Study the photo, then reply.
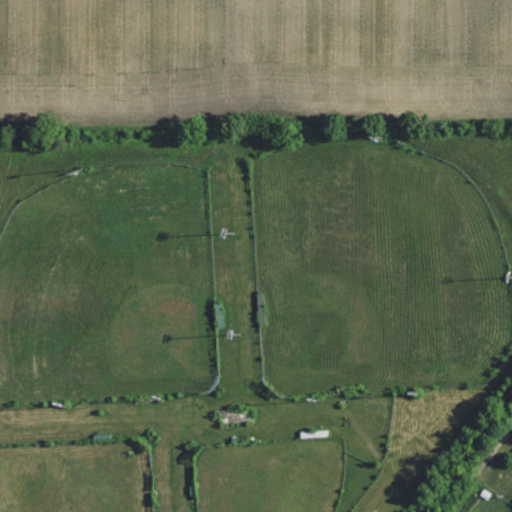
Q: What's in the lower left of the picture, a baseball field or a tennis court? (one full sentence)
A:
The one visible in the lower left of the picture is a baseball field.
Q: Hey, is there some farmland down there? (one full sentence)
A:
Yes, the picture does contain farmland.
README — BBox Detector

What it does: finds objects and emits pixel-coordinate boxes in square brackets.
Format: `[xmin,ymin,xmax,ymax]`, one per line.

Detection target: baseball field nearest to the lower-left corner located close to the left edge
[0,447,152,512]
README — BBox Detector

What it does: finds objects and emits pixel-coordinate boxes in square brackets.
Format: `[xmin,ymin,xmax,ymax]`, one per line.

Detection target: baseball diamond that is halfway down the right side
[250,144,512,395]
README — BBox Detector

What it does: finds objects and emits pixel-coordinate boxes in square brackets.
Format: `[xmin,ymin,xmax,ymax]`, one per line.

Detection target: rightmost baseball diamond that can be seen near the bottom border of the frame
[196,444,345,512]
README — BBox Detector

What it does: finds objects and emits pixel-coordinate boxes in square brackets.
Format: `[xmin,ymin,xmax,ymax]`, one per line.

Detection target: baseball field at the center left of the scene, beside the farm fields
[0,164,218,398]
